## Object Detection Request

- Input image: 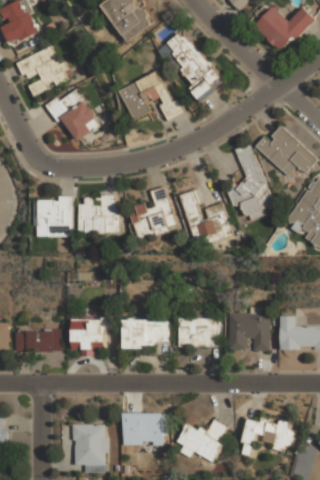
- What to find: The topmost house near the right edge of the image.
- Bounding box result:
[258,8,314,50]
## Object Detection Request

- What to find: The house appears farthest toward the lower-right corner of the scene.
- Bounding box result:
[241,418,294,456]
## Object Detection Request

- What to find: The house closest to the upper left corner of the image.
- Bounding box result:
[1,1,38,42]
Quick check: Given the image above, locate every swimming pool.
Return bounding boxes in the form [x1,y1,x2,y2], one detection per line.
[156,26,178,42]
[290,0,302,9]
[270,232,288,252]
